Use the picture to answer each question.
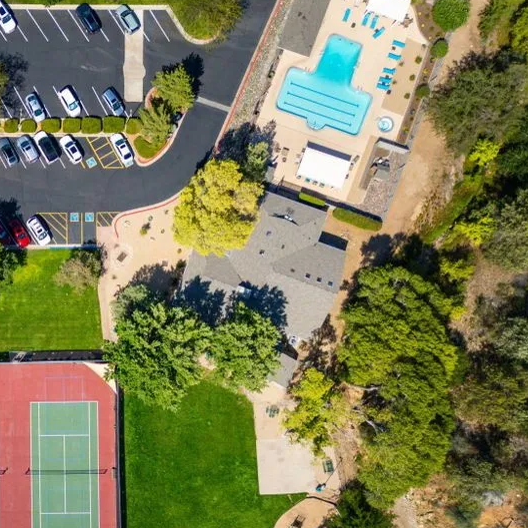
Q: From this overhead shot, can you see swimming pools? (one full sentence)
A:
Yes, the picture does show a swimming pool.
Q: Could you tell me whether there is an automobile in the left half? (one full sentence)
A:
Yes, looking in the left half, one can make out an automobile.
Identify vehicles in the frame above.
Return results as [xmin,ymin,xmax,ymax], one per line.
[59,86,80,117]
[77,2,99,34]
[102,86,123,115]
[111,135,133,165]
[25,91,46,122]
[18,135,38,164]
[9,217,30,247]
[0,138,18,167]
[61,134,82,165]
[28,214,49,244]
[118,4,139,34]
[36,131,59,165]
